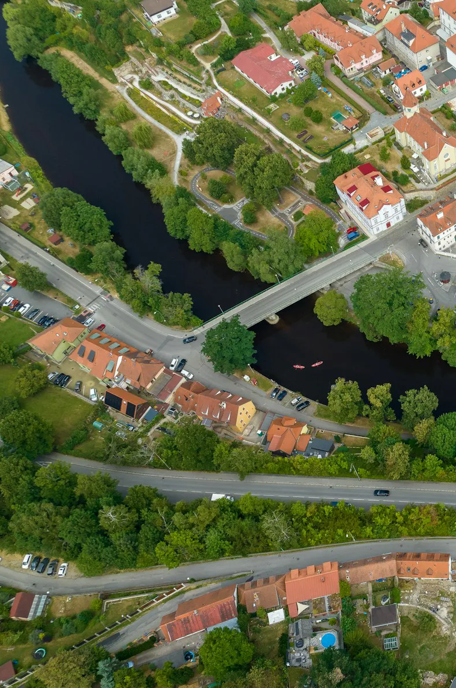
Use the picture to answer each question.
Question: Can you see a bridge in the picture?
Yes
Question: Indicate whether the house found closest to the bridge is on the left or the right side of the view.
right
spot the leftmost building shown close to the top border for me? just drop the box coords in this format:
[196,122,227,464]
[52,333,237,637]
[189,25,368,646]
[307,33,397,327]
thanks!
[138,0,177,24]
